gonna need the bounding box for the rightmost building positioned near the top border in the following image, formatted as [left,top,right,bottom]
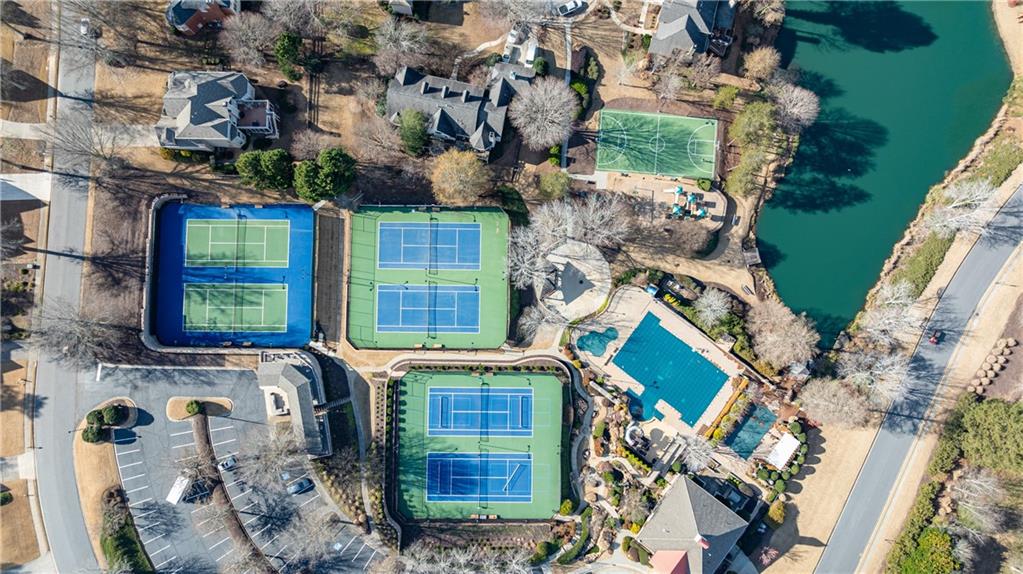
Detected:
[643,0,739,61]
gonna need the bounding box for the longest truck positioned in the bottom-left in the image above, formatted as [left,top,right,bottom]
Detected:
[161,476,187,508]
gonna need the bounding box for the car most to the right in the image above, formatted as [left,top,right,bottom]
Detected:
[929,329,943,345]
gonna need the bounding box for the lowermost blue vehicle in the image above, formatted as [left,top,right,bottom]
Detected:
[289,480,311,493]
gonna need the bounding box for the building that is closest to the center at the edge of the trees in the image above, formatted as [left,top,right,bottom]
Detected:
[529,263,573,304]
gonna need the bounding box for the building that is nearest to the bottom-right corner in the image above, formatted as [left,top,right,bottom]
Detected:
[761,430,800,470]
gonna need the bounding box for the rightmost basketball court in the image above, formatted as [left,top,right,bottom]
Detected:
[597,110,717,179]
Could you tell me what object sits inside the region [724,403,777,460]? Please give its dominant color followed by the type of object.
blue swimming pool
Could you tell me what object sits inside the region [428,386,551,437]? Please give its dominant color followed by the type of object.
blue tennis court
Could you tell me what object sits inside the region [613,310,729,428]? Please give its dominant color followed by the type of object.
blue swimming pool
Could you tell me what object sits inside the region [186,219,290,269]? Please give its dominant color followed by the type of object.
green tennis court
